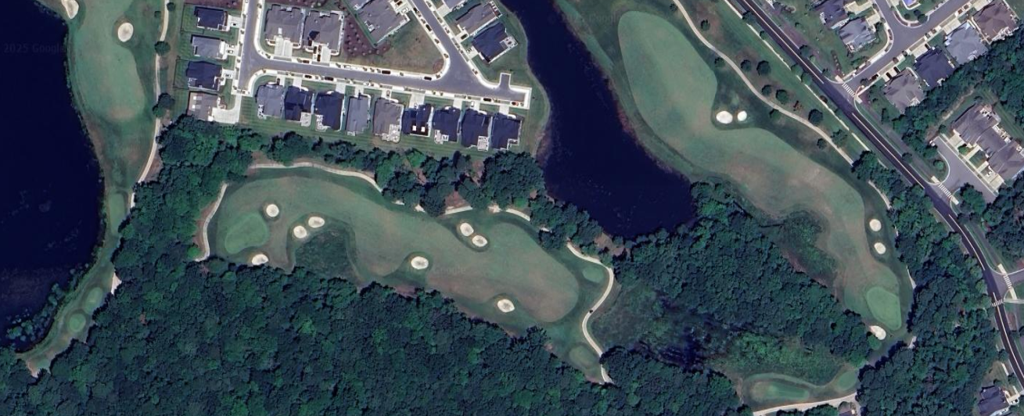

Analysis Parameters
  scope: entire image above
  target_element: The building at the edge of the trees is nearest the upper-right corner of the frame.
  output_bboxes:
[972,0,1010,41]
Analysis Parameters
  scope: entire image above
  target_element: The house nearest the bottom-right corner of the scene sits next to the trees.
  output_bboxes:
[979,388,1007,416]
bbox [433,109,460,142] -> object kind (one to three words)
house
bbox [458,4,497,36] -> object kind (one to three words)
house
